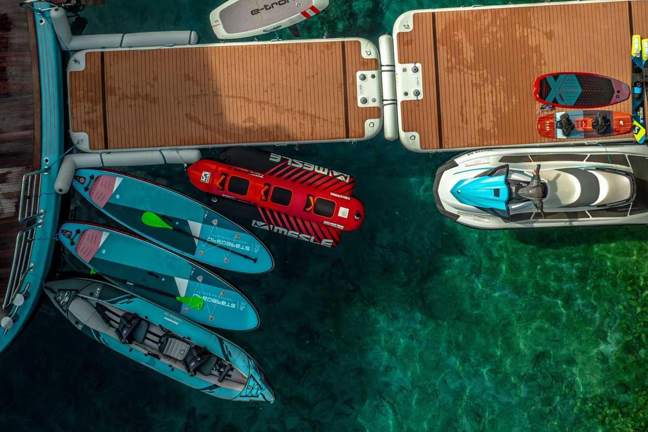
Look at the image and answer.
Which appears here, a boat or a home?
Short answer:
boat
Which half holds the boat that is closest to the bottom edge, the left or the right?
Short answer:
left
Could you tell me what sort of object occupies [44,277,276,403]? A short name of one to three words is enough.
boat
